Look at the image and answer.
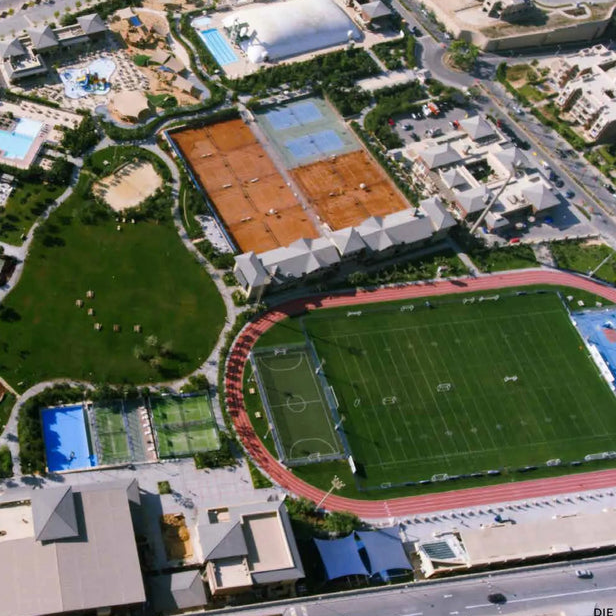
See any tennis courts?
Yes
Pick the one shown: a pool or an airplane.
pool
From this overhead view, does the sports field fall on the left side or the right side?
right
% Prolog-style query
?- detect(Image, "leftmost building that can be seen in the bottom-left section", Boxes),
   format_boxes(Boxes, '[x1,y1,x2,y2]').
[0,480,146,616]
